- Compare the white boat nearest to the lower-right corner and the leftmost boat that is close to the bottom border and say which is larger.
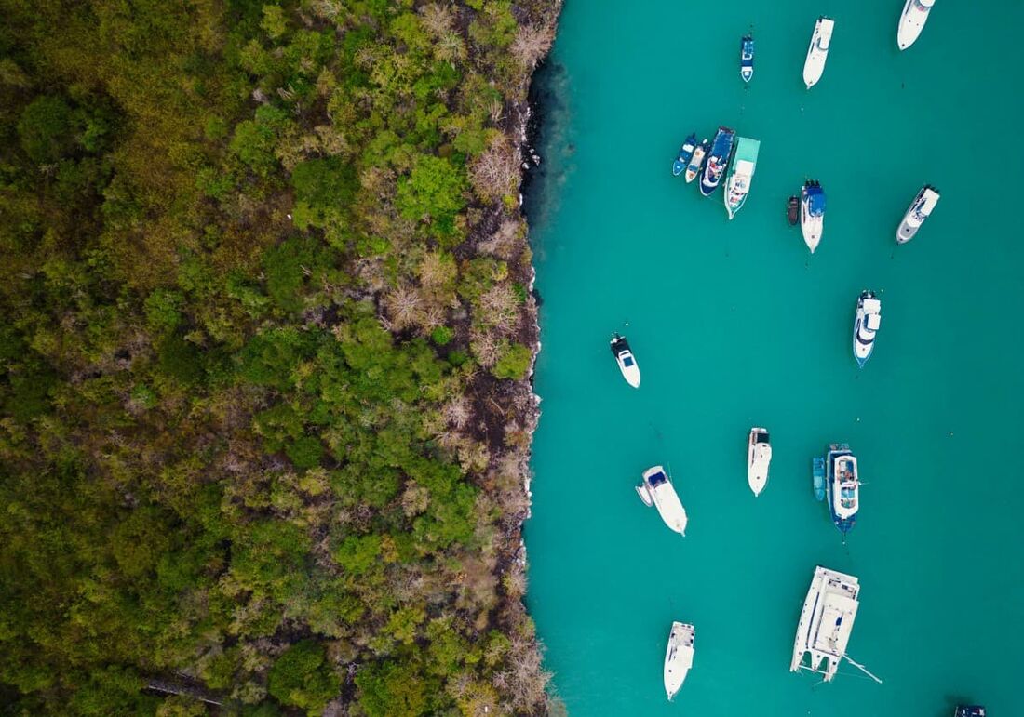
the white boat nearest to the lower-right corner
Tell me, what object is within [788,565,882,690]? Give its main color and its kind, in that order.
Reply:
white boat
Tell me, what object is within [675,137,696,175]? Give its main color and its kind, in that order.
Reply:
blue boat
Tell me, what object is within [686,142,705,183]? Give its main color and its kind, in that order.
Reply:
white boat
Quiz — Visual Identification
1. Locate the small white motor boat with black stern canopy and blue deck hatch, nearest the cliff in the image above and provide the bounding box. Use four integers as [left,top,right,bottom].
[610,332,640,387]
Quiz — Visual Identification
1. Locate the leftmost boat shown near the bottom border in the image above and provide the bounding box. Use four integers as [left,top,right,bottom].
[664,620,694,702]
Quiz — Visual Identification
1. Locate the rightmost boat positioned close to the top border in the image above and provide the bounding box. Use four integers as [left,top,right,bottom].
[898,0,934,50]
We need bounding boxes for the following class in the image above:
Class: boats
[800,181,825,254]
[610,332,640,387]
[896,184,944,245]
[642,465,684,537]
[741,34,755,82]
[788,565,882,690]
[952,700,985,717]
[725,137,758,221]
[786,194,799,226]
[703,125,736,196]
[747,424,768,497]
[854,293,881,370]
[675,137,696,175]
[898,0,934,50]
[806,14,835,90]
[822,445,862,541]
[812,455,825,501]
[686,142,705,183]
[636,483,652,506]
[664,620,694,702]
